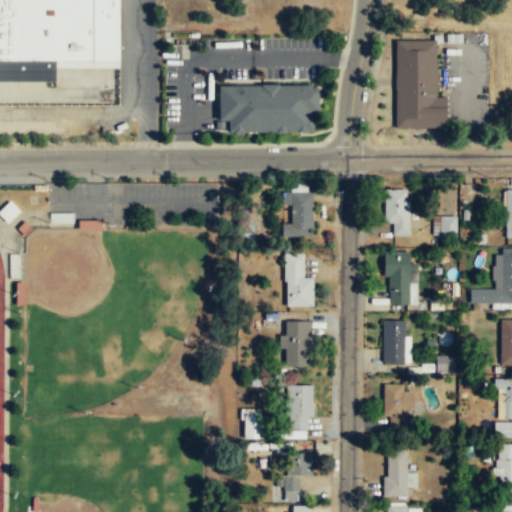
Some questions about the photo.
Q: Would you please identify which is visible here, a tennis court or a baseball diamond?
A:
baseball diamond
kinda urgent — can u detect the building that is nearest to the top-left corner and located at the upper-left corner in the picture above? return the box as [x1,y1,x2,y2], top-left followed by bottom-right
[0,0,120,80]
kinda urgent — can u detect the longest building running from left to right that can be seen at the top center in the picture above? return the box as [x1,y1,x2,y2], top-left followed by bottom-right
[218,84,320,134]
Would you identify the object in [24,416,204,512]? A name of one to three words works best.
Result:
baseball field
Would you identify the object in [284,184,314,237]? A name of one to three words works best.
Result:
house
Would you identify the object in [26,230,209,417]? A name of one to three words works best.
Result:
baseball field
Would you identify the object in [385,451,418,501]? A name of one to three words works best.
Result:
house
